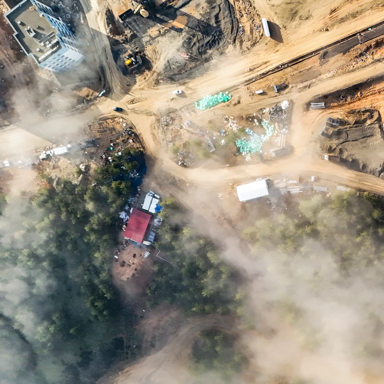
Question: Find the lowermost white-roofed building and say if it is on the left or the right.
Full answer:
You can find the lowermost white-roofed building on the right side of the picture.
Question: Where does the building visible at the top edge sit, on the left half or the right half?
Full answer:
It is on the left.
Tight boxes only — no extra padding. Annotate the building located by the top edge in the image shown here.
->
[2,0,81,75]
